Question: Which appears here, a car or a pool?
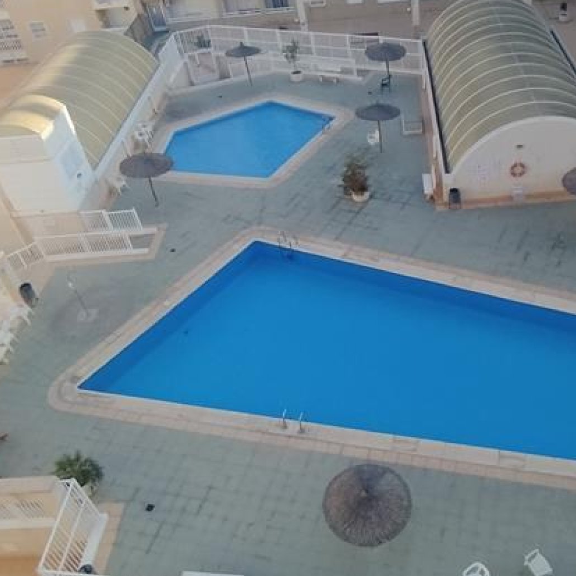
pool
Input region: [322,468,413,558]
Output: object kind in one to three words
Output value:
umbrella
